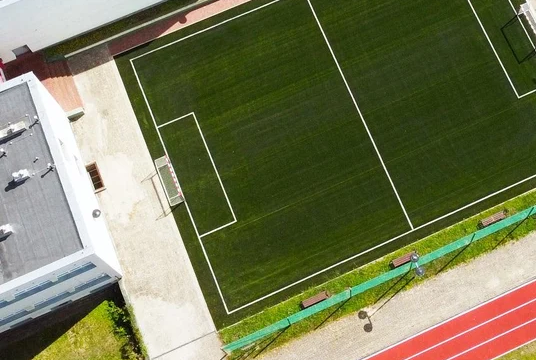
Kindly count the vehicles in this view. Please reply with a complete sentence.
Not a single vehicle can be seen.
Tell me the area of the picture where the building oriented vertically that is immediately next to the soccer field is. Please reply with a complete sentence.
Look in the left portion of the view to spot the building oriented vertically that is immediately next to the soccer field.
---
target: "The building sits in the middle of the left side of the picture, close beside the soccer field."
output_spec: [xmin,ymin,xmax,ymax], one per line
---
[0,69,120,337]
